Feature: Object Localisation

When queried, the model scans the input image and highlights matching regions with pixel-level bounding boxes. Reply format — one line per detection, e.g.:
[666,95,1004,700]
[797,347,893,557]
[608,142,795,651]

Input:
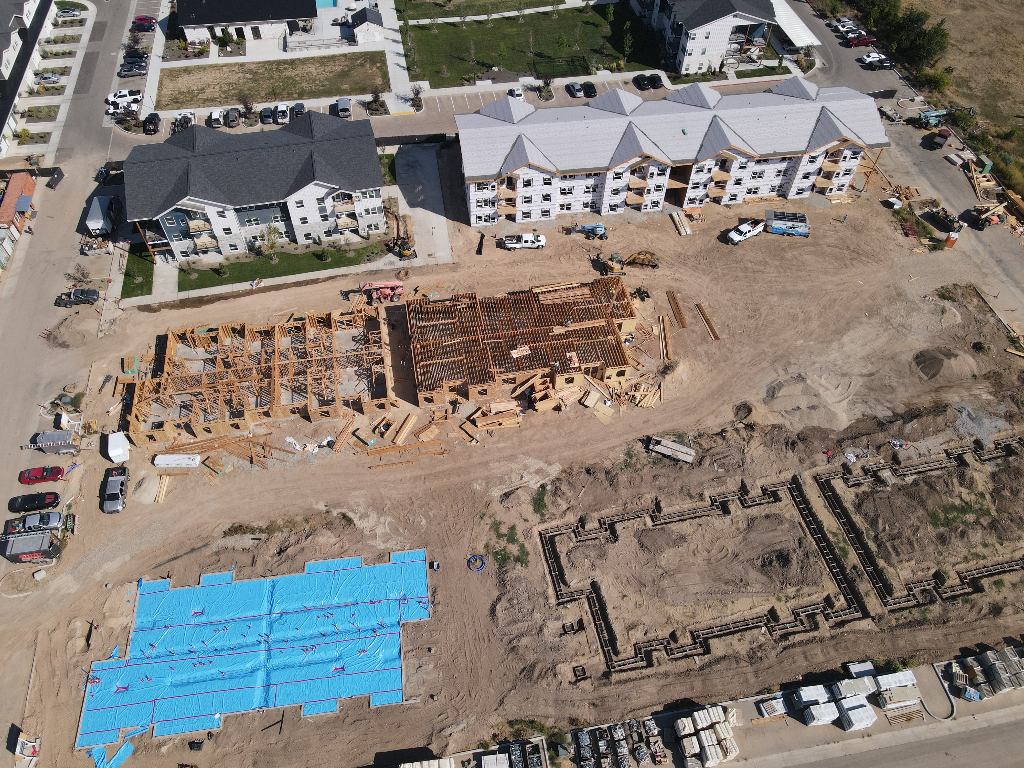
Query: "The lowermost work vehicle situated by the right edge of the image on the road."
[972,193,1021,230]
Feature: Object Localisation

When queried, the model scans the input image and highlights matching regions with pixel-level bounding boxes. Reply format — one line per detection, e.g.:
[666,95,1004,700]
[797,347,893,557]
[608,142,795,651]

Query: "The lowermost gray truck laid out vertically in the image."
[102,466,130,514]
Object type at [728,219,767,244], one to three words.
truck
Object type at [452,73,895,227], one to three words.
building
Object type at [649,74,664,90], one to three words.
car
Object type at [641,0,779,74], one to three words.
building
